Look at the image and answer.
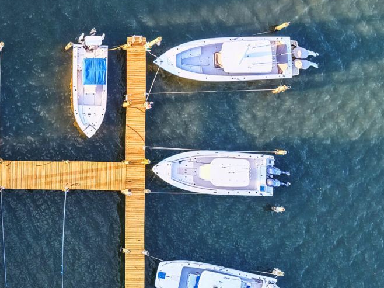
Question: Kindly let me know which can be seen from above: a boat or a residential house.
boat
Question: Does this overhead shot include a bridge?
No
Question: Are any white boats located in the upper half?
Yes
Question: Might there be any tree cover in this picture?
No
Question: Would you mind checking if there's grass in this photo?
No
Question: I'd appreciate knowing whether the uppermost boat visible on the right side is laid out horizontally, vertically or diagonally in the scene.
horizontally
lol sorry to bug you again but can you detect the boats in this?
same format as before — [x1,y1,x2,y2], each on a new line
[154,37,324,82]
[155,260,278,288]
[71,25,108,138]
[154,149,295,198]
